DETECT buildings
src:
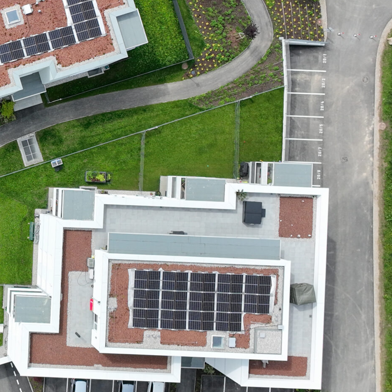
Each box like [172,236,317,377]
[0,163,329,390]
[0,0,148,102]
